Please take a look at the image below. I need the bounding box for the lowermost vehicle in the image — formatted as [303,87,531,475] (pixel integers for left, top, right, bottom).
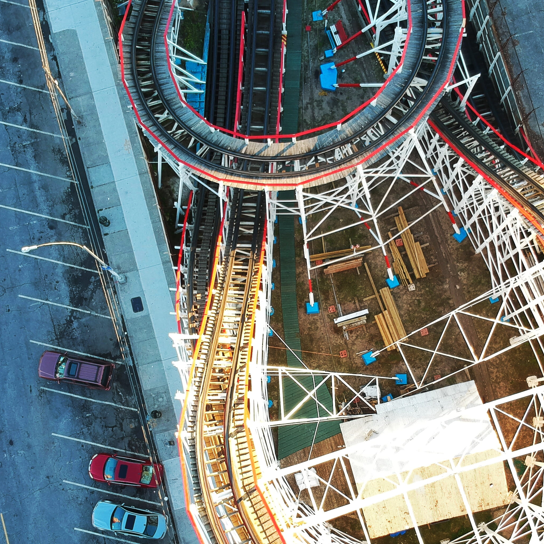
[93,503,169,540]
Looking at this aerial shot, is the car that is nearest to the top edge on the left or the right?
left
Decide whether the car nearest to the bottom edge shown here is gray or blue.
blue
